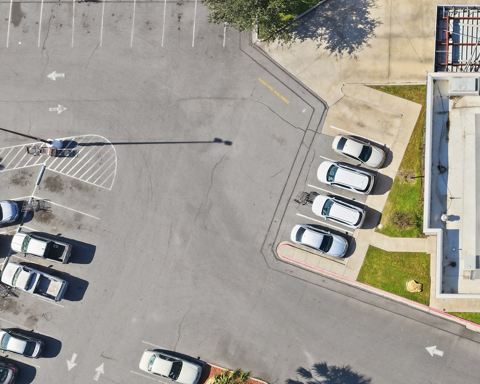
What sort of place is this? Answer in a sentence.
This image shows a parking lot.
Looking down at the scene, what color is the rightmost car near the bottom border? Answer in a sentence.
The rightmost car near the bottom border looks white in the image.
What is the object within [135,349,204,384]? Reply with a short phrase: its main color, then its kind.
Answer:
white car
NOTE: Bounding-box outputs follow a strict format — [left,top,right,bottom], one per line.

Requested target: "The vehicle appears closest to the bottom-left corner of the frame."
[0,360,21,384]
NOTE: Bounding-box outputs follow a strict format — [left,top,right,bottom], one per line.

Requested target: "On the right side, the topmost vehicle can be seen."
[330,133,389,169]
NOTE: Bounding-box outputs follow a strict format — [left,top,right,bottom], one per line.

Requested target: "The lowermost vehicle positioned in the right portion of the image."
[287,225,350,258]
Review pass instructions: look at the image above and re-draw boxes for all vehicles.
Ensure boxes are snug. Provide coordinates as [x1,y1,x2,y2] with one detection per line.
[0,325,46,360]
[310,194,368,230]
[287,225,350,258]
[0,360,21,384]
[0,202,21,227]
[5,231,74,266]
[330,133,389,169]
[0,265,69,303]
[135,349,204,384]
[315,159,376,194]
